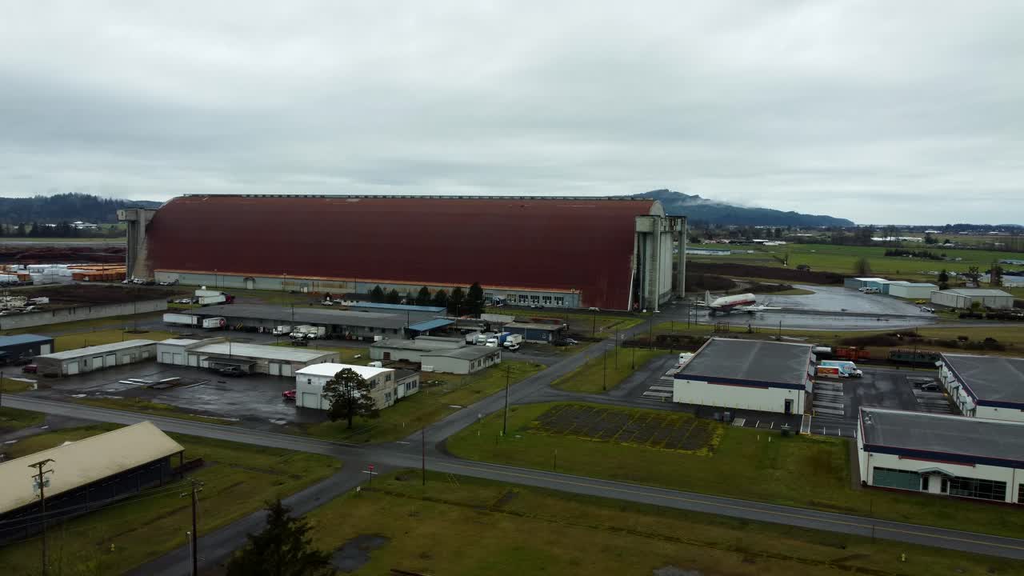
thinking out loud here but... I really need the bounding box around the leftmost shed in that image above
[0,332,57,367]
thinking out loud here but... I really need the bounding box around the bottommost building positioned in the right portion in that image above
[859,406,1024,506]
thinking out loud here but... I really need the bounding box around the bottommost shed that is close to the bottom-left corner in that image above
[0,421,188,548]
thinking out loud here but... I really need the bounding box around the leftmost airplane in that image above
[686,289,782,312]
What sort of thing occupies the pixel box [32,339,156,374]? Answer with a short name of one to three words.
building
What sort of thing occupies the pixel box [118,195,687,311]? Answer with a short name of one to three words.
hangar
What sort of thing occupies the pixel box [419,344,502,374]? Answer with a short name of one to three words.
building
